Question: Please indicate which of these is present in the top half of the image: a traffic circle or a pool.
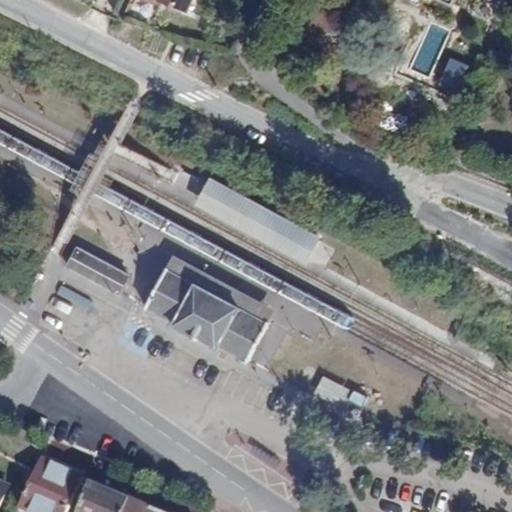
pool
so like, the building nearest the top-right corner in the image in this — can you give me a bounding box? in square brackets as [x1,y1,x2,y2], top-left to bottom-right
[440,58,469,83]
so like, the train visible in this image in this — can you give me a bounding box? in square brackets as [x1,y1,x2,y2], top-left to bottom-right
[0,130,354,328]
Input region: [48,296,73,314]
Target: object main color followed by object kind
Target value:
white vehicle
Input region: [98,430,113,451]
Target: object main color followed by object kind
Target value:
red car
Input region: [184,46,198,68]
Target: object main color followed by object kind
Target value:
gray car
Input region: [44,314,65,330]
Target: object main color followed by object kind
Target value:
white car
